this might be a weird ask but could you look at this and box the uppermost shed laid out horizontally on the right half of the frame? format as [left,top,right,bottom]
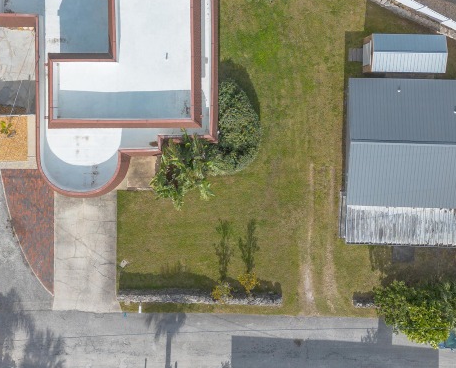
[364,34,448,74]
